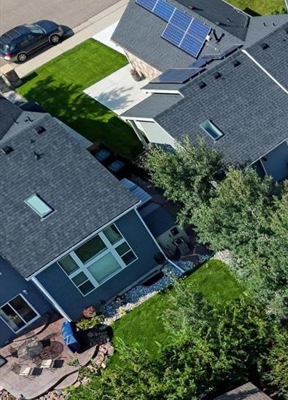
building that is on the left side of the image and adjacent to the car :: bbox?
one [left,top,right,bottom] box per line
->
[0,93,190,349]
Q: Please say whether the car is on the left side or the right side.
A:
left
